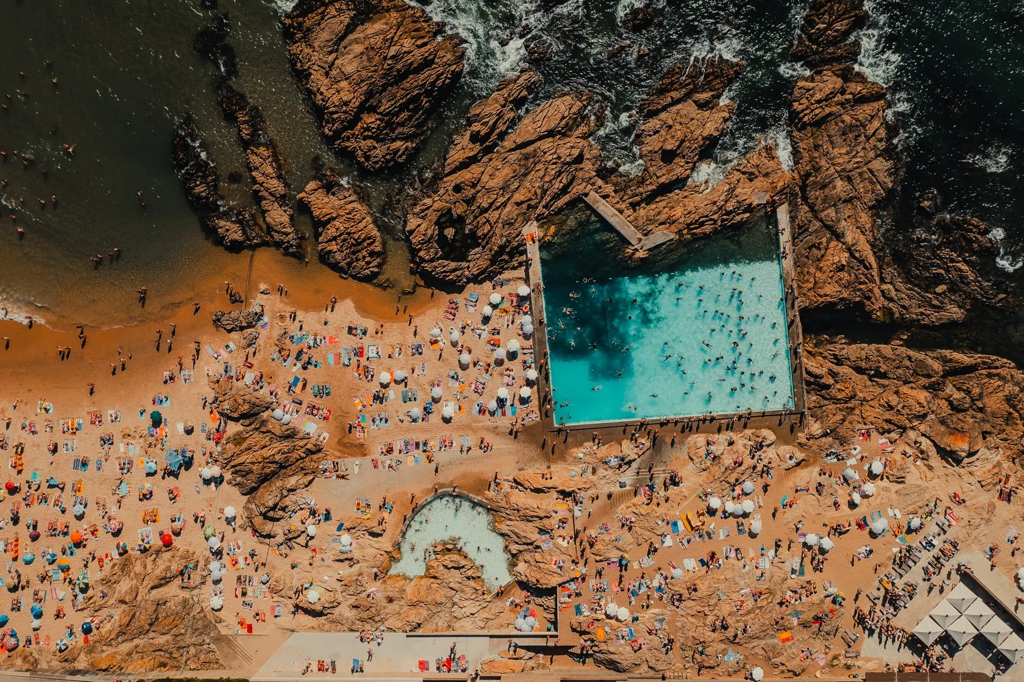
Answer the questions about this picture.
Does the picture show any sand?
Yes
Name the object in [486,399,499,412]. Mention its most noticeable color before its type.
white umbrella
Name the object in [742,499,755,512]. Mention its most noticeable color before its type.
white umbrella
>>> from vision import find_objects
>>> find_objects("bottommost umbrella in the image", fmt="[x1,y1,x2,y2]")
[750,666,764,679]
